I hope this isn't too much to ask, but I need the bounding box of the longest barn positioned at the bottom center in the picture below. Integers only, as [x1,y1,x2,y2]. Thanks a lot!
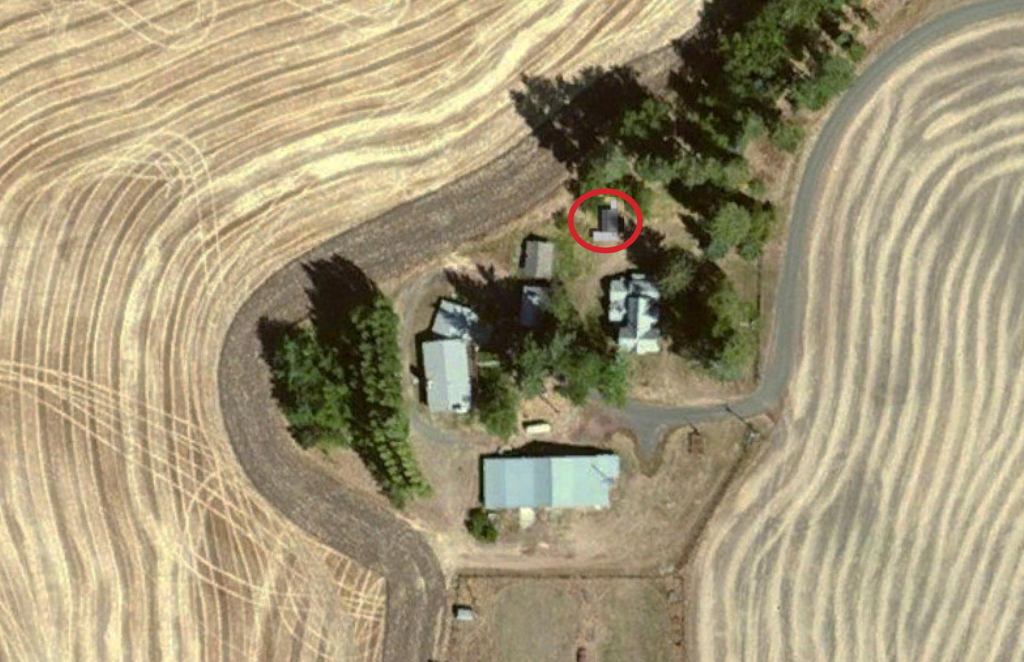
[484,454,620,509]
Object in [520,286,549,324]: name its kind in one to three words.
shed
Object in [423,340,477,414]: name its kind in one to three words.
building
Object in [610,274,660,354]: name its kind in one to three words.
house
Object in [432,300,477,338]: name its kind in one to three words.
shed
